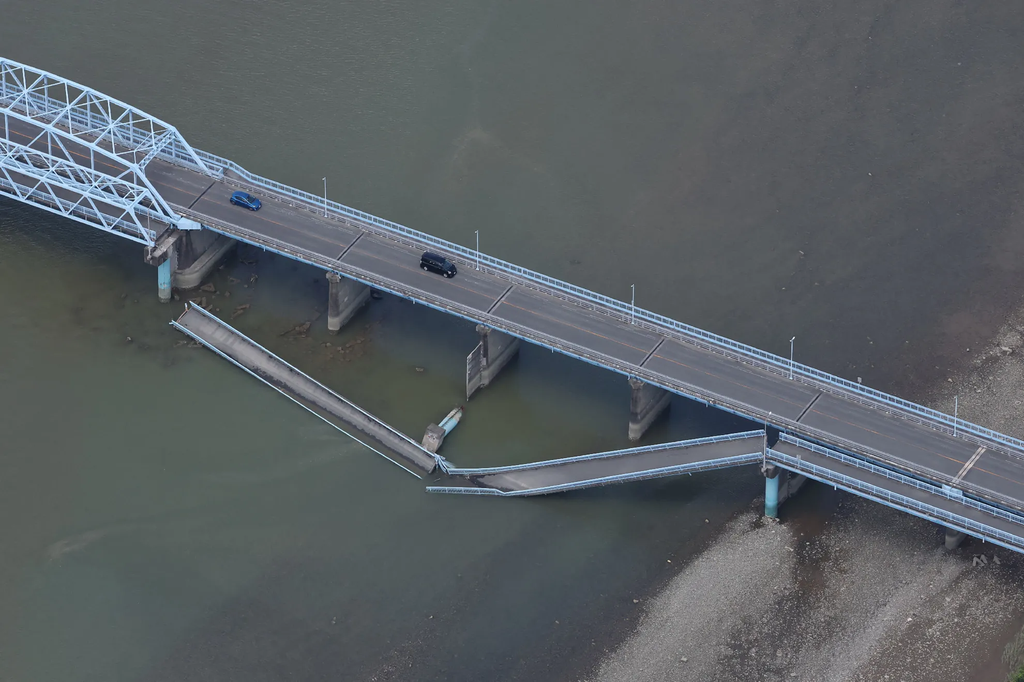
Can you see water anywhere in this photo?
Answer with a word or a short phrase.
Yes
